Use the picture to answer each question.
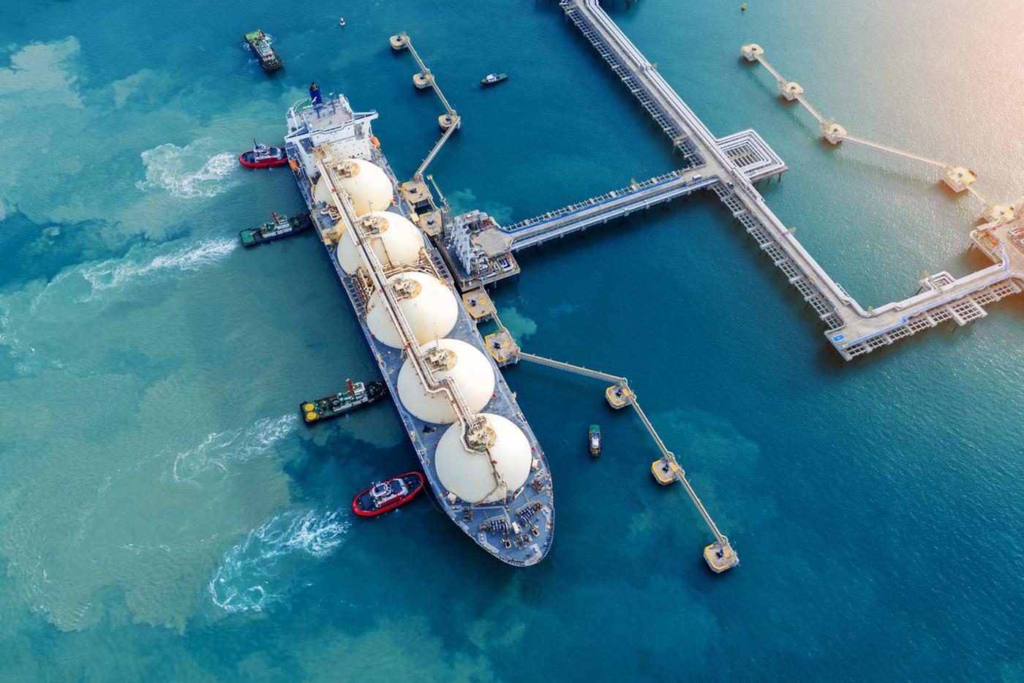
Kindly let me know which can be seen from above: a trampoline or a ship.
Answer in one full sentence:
Visible in the photo is a ship.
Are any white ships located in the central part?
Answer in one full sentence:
Yes, a white ship can be seen in the central part.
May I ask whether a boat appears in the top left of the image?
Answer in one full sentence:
Yes, a boat shows up in the top left of the image.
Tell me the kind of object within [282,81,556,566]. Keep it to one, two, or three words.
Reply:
ship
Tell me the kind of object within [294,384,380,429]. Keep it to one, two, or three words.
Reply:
boat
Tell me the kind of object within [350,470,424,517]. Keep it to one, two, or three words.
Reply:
boat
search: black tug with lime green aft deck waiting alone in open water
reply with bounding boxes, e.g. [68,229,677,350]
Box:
[242,23,280,71]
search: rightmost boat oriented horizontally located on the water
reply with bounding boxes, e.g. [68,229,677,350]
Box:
[481,71,508,84]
